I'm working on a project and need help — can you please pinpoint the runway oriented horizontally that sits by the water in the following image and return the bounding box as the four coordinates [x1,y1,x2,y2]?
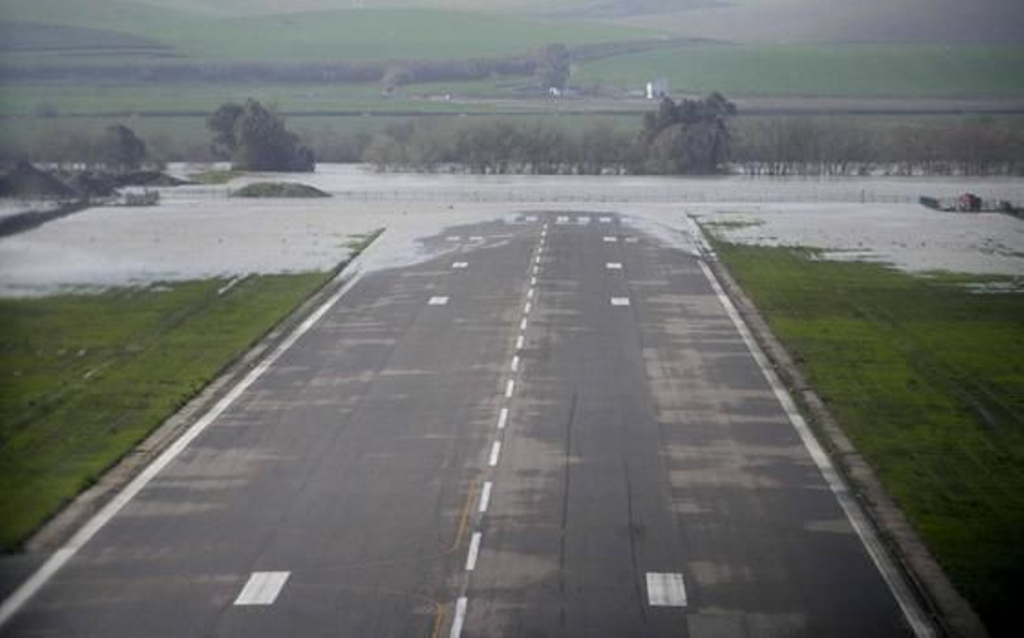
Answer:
[0,210,950,638]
